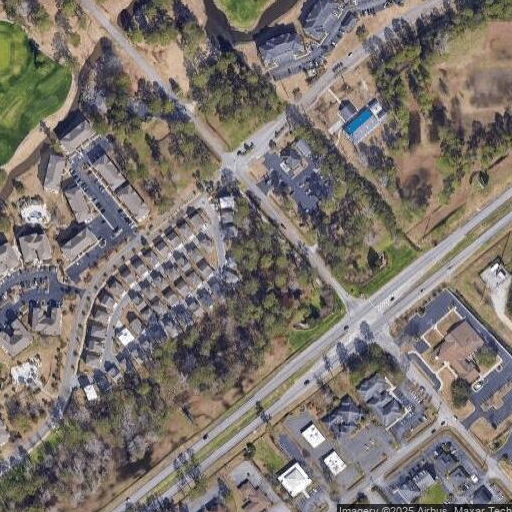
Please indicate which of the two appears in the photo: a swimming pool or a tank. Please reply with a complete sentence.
The one in the frame is a swimming pool.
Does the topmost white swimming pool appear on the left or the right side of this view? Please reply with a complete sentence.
The topmost white swimming pool is on the left side of the image.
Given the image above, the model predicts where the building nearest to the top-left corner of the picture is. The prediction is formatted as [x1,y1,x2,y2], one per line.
[58,120,96,156]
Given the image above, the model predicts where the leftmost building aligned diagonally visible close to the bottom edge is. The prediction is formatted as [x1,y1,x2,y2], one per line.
[235,476,273,512]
